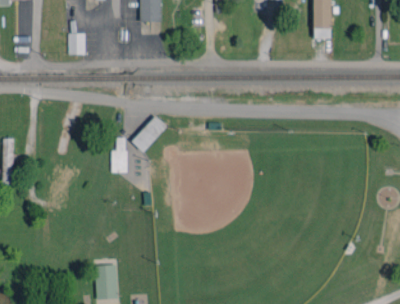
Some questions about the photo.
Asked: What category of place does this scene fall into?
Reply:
sports ground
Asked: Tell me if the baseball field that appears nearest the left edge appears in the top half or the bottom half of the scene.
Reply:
bottom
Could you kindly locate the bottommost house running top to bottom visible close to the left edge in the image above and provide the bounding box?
[0,138,14,184]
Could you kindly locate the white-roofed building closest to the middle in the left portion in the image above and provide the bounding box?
[132,116,166,152]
